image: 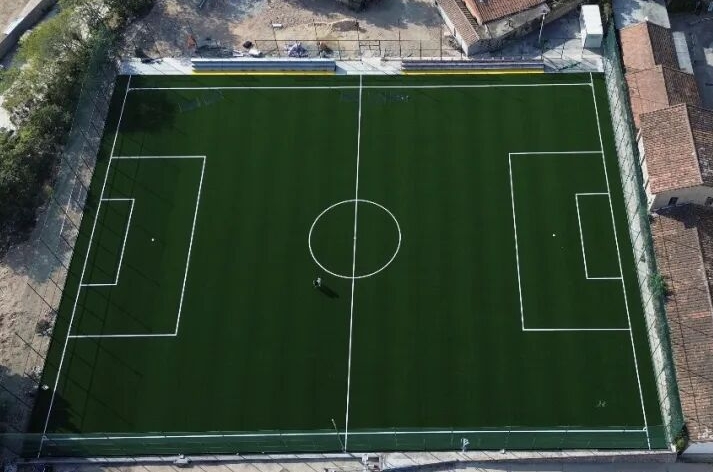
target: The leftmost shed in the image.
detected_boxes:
[432,0,483,54]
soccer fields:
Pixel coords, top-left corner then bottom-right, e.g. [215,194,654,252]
[26,71,670,459]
